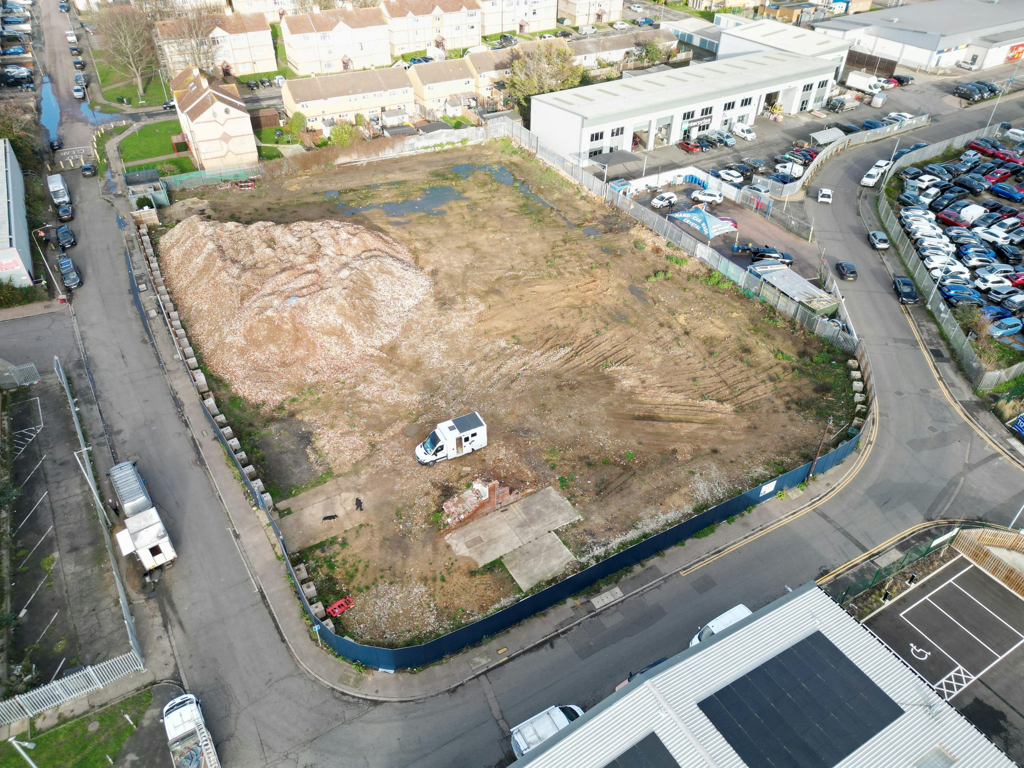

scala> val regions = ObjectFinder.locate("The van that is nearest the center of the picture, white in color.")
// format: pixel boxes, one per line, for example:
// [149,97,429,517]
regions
[418,411,487,468]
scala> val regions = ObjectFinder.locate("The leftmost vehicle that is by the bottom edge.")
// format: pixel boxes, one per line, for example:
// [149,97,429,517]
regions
[162,690,221,768]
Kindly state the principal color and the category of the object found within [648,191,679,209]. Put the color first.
white car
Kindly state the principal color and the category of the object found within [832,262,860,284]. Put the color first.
gray car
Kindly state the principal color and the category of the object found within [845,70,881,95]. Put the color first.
white vehicle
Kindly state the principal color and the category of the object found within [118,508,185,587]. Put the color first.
white trailer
